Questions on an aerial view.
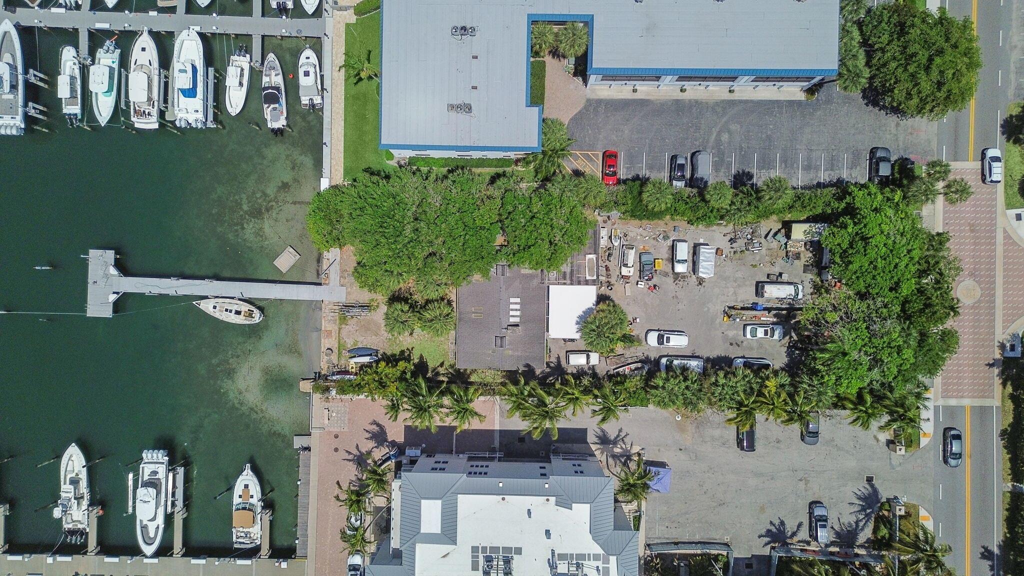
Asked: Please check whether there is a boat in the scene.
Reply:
Yes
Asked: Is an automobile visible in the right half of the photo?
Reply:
Yes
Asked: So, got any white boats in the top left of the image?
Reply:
Yes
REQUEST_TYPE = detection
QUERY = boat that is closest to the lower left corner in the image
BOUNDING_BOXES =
[53,444,93,539]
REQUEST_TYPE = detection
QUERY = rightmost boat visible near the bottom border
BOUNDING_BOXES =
[232,464,262,548]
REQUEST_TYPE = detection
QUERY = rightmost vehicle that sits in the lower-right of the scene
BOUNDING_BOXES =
[941,426,963,467]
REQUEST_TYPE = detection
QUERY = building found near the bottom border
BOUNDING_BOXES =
[364,449,640,576]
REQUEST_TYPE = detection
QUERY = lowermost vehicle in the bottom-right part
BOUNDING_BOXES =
[807,500,830,544]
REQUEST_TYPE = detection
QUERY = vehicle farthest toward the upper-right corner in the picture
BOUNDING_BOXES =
[979,148,1003,187]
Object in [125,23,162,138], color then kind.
white boat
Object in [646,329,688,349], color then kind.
white car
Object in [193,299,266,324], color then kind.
white boat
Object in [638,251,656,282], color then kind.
gray vehicle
